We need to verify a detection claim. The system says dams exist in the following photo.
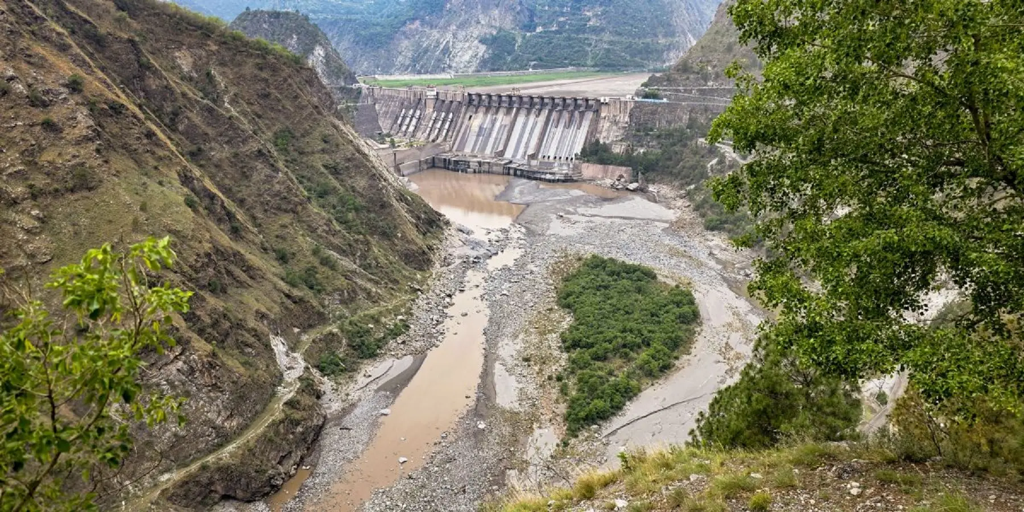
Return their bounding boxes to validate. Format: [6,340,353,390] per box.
[364,86,633,162]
